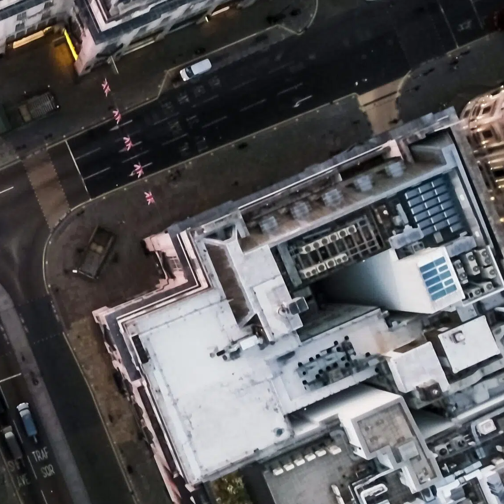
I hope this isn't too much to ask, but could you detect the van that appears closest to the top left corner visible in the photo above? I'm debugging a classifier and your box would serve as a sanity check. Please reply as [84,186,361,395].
[176,54,218,84]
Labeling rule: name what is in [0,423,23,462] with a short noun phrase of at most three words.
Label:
car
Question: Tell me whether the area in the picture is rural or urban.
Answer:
urban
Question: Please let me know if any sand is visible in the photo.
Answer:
No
